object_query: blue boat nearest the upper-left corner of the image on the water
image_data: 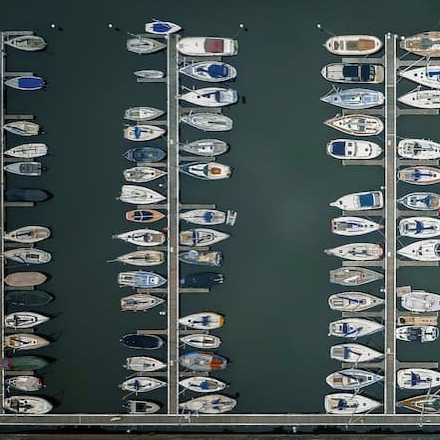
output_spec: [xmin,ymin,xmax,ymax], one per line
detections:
[1,76,53,91]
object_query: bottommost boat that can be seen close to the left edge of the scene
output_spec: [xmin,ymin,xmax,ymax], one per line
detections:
[3,393,53,414]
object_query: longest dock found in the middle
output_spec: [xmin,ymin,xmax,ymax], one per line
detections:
[138,33,222,414]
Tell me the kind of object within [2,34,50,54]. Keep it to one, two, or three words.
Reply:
boat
